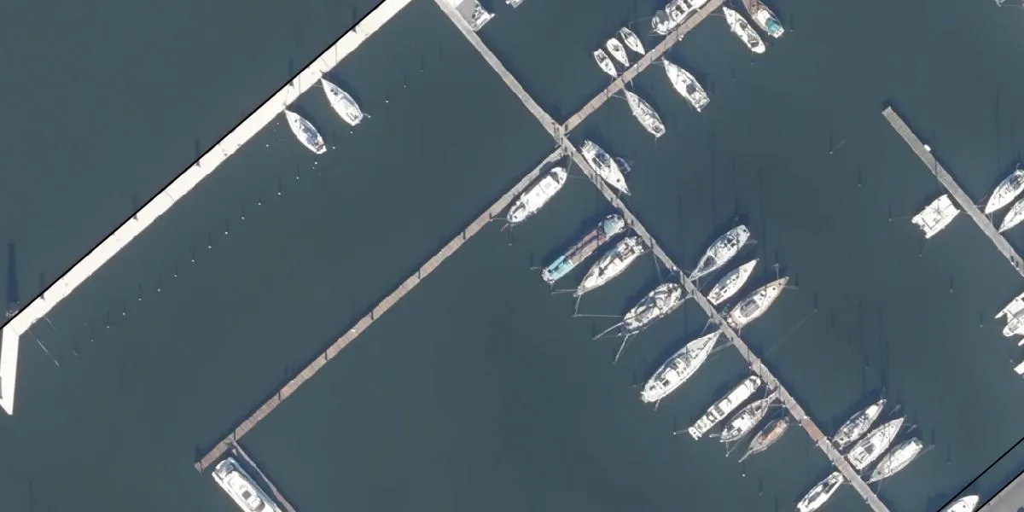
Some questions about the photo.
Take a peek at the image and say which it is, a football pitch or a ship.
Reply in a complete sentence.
Visible in the photo is a ship.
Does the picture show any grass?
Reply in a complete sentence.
No, there is no grass in the image.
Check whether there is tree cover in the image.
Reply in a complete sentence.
No, there is no tree cover in the image.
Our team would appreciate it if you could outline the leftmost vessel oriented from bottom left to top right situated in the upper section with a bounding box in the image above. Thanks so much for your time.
[506,168,566,220]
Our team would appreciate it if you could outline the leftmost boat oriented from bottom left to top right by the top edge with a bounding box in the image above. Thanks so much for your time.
[651,0,704,34]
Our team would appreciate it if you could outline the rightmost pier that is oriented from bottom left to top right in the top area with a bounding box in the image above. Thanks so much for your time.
[562,0,721,133]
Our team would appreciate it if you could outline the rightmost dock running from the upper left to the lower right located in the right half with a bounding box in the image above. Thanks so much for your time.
[883,106,1024,277]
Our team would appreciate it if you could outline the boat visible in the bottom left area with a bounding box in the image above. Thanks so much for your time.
[212,456,279,512]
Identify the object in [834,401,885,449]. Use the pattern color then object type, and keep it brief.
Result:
white boat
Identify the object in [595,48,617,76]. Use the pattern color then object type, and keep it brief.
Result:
white boat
